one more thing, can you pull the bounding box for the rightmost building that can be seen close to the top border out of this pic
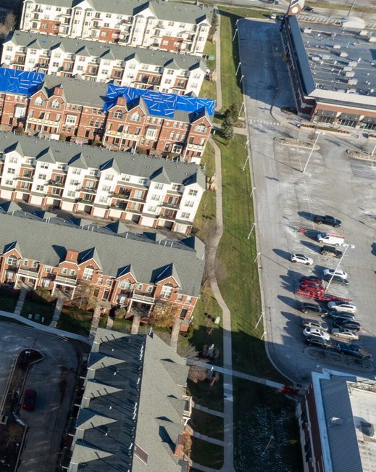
[281,0,376,130]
